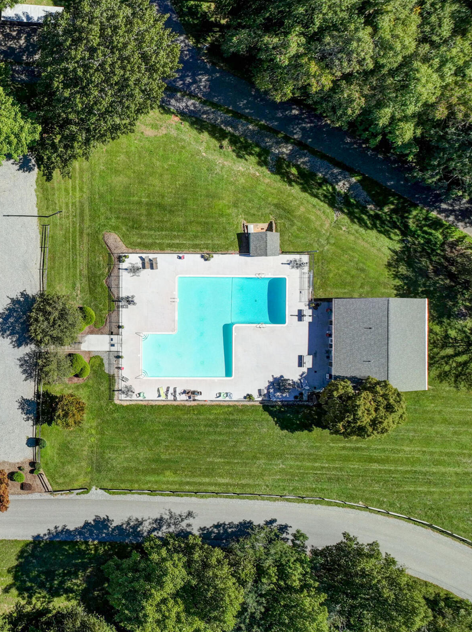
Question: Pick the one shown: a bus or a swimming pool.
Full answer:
Of the two, only a swimming pool appears.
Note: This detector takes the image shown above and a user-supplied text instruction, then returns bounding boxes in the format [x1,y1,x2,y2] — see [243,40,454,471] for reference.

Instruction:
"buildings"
[328,298,429,391]
[0,2,65,30]
[247,233,280,255]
